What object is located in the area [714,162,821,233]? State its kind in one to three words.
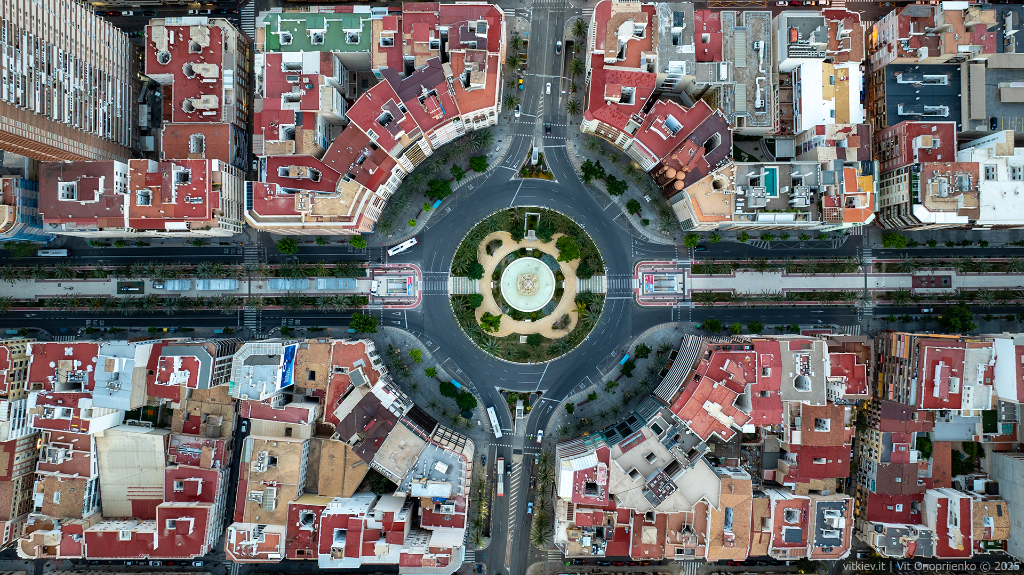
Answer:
building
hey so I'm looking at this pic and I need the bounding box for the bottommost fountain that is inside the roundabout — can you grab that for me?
[501,257,555,311]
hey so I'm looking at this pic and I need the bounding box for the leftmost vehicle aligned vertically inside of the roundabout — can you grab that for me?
[488,406,502,440]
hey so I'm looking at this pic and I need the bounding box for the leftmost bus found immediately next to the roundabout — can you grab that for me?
[386,237,418,257]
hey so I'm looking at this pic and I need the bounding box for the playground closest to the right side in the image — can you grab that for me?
[912,275,952,288]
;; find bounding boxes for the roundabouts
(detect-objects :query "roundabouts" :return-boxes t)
[423,122,634,449]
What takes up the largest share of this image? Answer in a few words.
buildings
